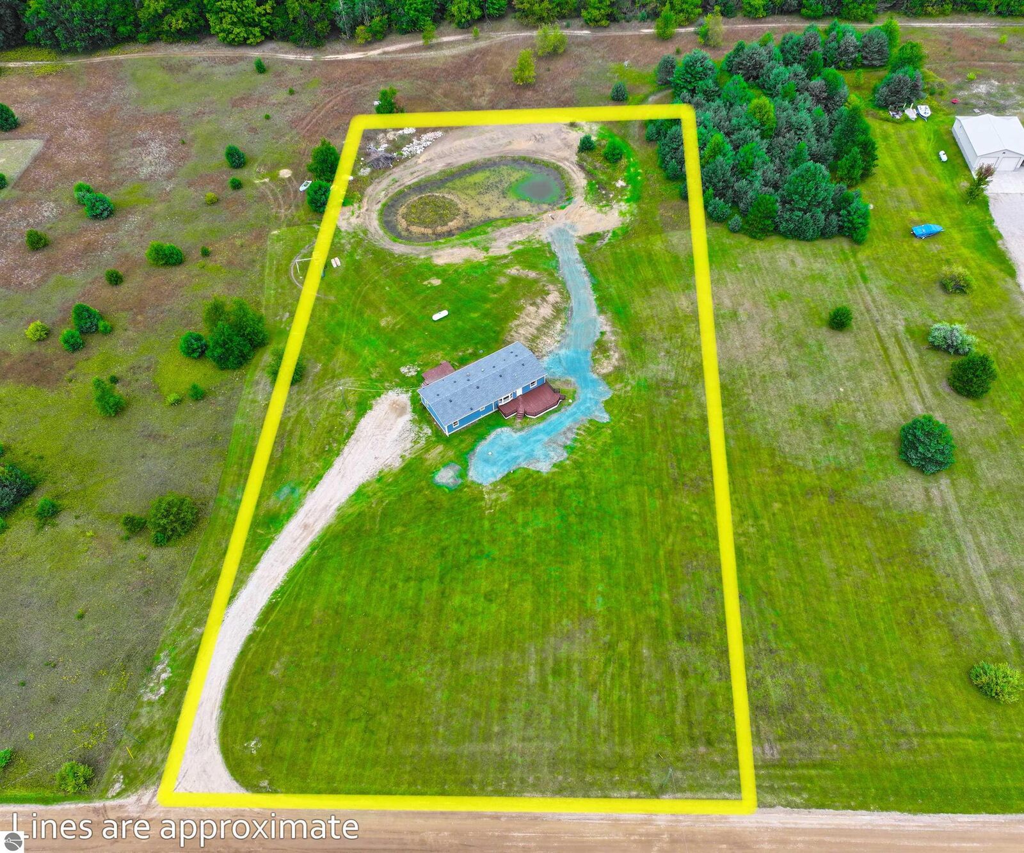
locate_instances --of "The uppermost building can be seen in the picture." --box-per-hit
[951,107,1024,170]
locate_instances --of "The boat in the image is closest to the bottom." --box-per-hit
[908,223,947,239]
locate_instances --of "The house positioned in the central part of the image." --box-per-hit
[418,340,547,436]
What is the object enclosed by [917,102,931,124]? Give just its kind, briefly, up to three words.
boat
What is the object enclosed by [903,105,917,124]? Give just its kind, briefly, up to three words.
boat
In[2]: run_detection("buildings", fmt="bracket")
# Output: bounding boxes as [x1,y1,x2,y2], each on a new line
[418,340,547,436]
[951,107,1024,170]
